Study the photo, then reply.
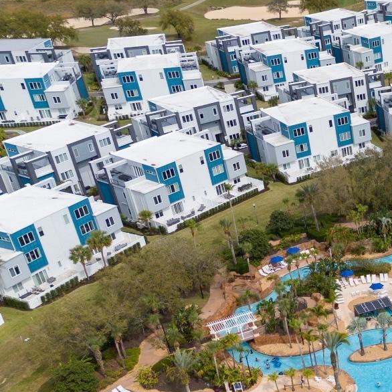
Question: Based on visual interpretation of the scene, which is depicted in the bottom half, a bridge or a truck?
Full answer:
You can see a bridge in the bottom half.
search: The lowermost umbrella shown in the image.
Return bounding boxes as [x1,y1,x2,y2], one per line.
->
[368,283,388,300]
